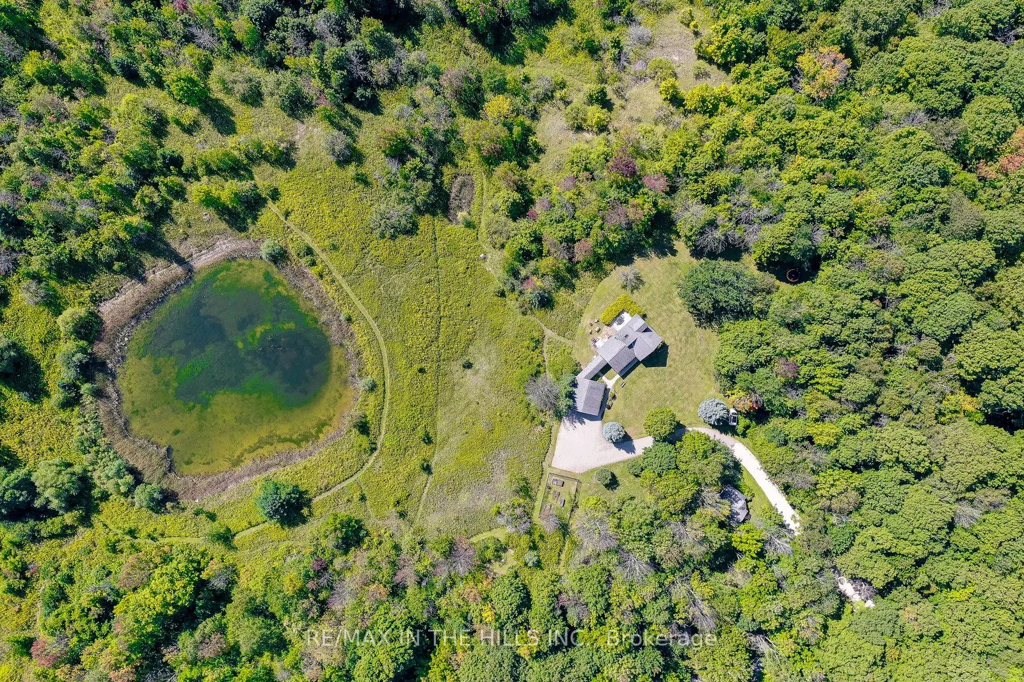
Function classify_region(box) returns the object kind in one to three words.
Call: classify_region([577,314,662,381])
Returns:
house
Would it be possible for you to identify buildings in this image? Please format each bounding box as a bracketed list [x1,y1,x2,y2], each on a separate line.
[714,486,748,524]
[577,314,662,381]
